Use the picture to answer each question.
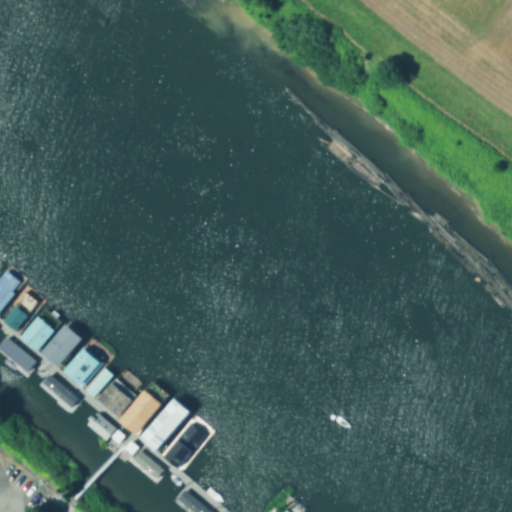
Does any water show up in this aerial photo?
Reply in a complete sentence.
Yes, water can be seen from above here.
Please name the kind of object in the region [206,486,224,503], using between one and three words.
boat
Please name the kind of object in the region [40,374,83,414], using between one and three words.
building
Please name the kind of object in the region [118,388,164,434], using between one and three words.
house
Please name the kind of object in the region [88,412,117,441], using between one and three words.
building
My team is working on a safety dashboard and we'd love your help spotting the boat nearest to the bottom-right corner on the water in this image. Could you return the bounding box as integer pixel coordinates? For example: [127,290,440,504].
[334,414,352,428]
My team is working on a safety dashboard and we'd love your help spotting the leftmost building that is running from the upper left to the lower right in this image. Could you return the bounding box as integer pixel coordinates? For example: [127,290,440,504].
[0,338,38,378]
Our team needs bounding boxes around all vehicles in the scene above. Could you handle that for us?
[5,465,16,476]
[26,484,38,498]
[9,470,21,482]
[36,496,48,508]
[22,480,34,492]
[30,492,44,504]
[16,474,28,486]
